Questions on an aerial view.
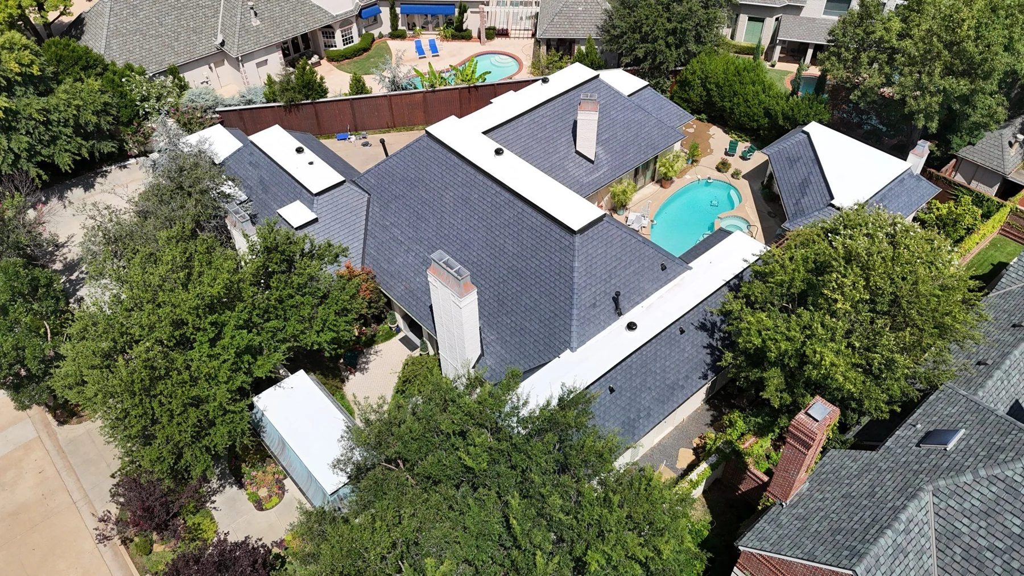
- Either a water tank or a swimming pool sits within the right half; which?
swimming pool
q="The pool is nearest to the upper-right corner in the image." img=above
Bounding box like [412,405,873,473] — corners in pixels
[786,72,852,116]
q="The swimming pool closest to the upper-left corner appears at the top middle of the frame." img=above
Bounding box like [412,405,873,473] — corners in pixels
[394,50,525,96]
